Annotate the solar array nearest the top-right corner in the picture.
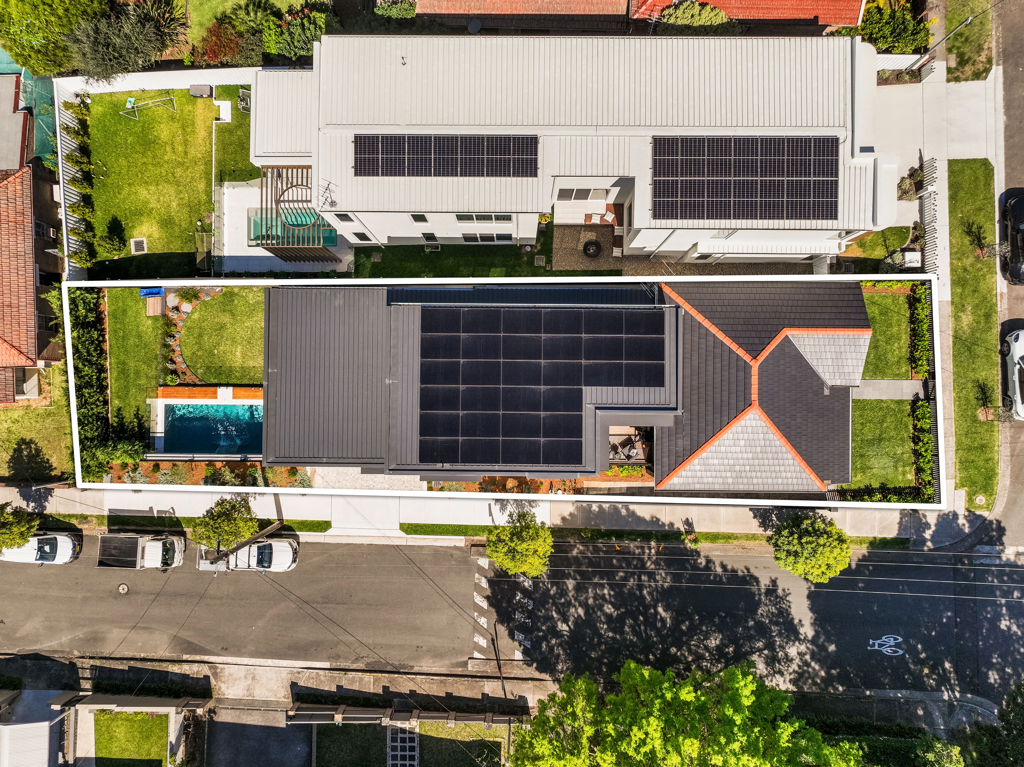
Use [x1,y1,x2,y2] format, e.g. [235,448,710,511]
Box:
[649,135,842,220]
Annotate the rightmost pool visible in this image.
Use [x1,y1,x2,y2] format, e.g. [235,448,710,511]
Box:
[249,209,337,247]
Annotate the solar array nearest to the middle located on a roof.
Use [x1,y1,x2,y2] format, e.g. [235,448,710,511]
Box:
[418,308,668,464]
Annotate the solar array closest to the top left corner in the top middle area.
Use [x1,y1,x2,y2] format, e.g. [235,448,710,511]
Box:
[351,134,541,177]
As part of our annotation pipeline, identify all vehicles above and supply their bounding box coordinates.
[0,529,88,571]
[101,527,188,572]
[1000,197,1024,289]
[198,533,301,576]
[1007,332,1024,419]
